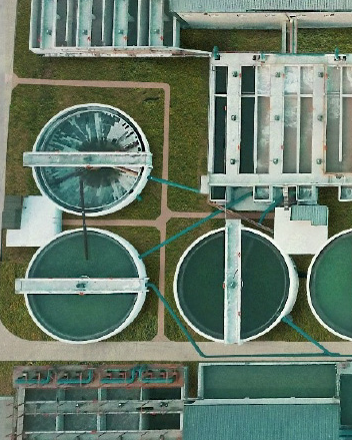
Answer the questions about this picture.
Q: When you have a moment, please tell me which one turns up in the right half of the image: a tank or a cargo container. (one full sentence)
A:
What appears in the right half of the image is a tank.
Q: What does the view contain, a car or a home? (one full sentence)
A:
The image shows a home.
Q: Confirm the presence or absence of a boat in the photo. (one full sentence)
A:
No, I find no boat anywhere in the image.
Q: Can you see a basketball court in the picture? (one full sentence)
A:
No, the scene contains no basketball court.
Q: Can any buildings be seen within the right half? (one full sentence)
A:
Yes, within the right half there is a building.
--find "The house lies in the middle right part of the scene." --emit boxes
[275,205,331,254]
